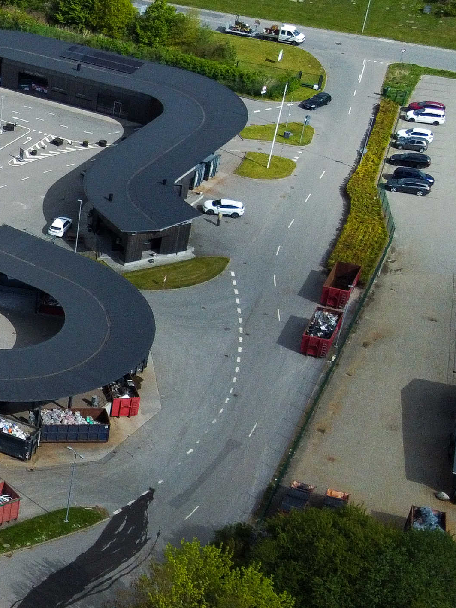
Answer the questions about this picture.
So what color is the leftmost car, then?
white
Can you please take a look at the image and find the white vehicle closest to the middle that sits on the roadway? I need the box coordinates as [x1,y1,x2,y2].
[205,199,242,219]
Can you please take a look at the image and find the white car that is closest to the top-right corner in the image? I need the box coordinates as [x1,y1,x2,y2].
[407,109,442,125]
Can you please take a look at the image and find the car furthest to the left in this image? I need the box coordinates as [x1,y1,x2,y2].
[48,216,70,237]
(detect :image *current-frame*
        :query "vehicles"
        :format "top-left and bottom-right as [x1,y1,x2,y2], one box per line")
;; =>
[407,109,442,125]
[261,26,302,45]
[396,170,435,186]
[398,137,426,153]
[398,128,433,145]
[48,216,70,237]
[304,92,332,110]
[388,179,427,196]
[393,154,430,171]
[205,199,242,219]
[411,99,444,112]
